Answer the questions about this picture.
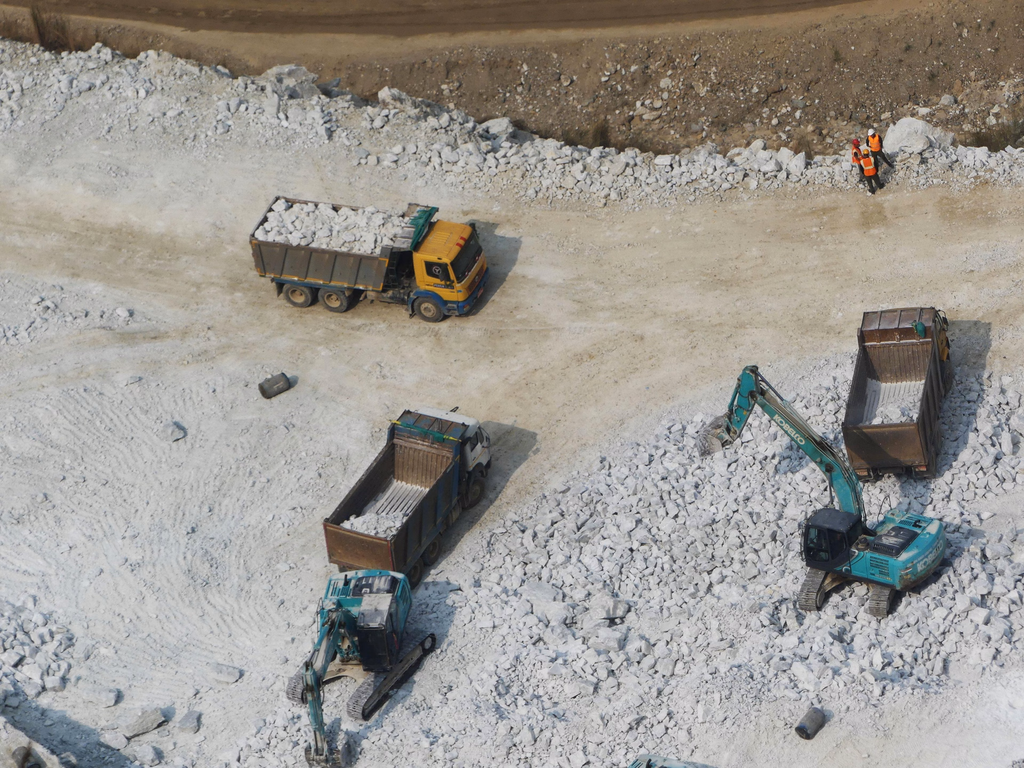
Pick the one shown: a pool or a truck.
truck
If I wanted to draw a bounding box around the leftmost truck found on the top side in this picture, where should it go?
[249,195,491,325]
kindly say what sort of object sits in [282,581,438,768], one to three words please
work vehicle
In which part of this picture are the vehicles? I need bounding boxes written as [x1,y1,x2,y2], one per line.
[249,195,491,325]
[317,405,498,588]
[282,581,438,768]
[624,756,705,768]
[839,304,956,486]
